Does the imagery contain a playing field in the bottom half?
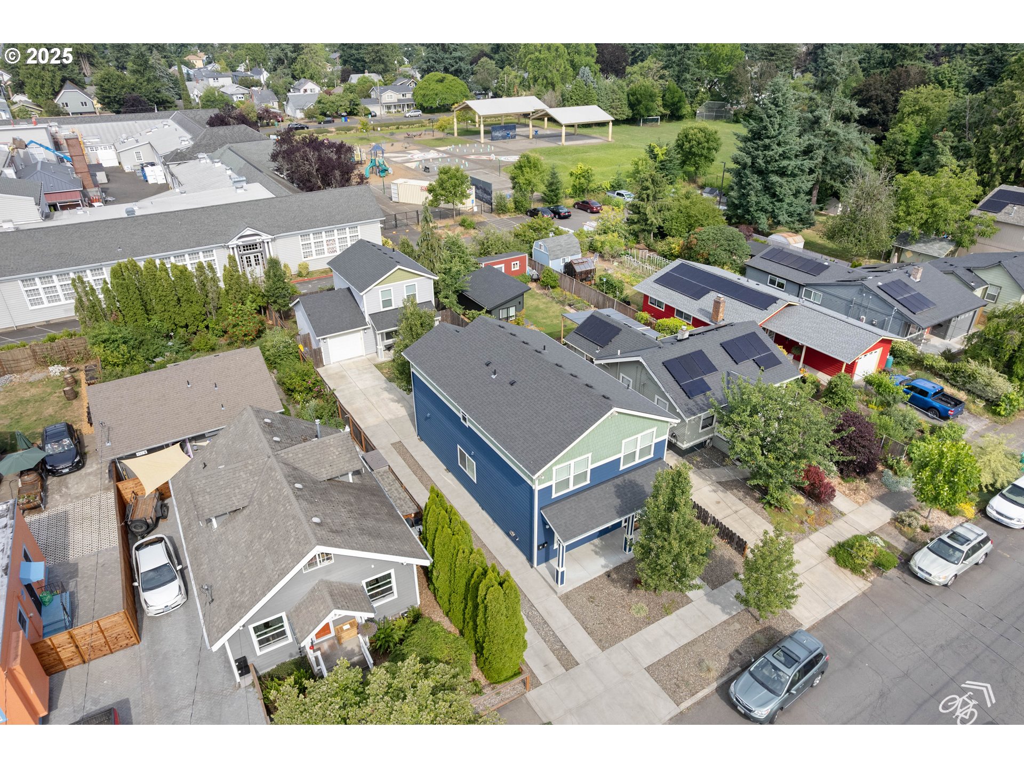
No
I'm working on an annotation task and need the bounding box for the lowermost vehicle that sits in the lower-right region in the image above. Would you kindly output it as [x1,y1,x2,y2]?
[717,631,832,729]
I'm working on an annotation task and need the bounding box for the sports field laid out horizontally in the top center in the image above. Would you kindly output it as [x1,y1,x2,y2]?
[268,111,826,232]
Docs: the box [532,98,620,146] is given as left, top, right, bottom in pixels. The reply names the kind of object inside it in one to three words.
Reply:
building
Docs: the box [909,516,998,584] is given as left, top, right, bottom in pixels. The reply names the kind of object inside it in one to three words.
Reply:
car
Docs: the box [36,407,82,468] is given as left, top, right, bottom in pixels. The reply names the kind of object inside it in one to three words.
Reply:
car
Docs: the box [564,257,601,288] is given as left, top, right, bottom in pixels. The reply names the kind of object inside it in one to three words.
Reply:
greenhouse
